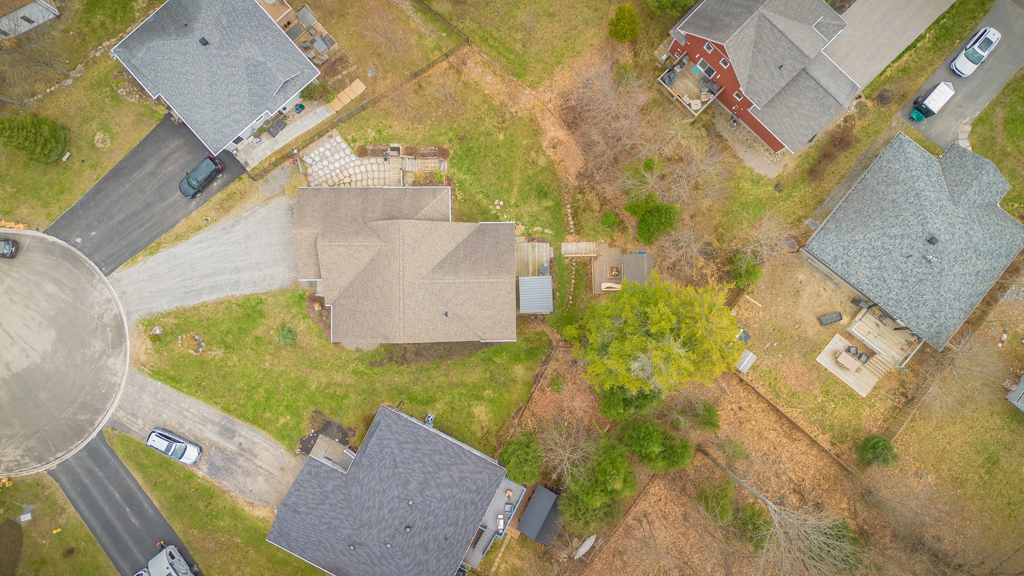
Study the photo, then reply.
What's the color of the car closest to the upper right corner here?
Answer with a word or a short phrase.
white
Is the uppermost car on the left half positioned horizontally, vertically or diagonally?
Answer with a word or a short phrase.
diagonally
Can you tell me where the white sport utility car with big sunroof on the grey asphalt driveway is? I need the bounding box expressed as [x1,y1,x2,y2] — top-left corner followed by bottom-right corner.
[948,23,1005,81]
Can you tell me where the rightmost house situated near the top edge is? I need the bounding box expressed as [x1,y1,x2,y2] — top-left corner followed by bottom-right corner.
[667,0,861,154]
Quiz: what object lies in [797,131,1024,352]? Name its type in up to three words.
house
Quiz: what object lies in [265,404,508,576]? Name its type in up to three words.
house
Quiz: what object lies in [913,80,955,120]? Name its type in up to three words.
trailer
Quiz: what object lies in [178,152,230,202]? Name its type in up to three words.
car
